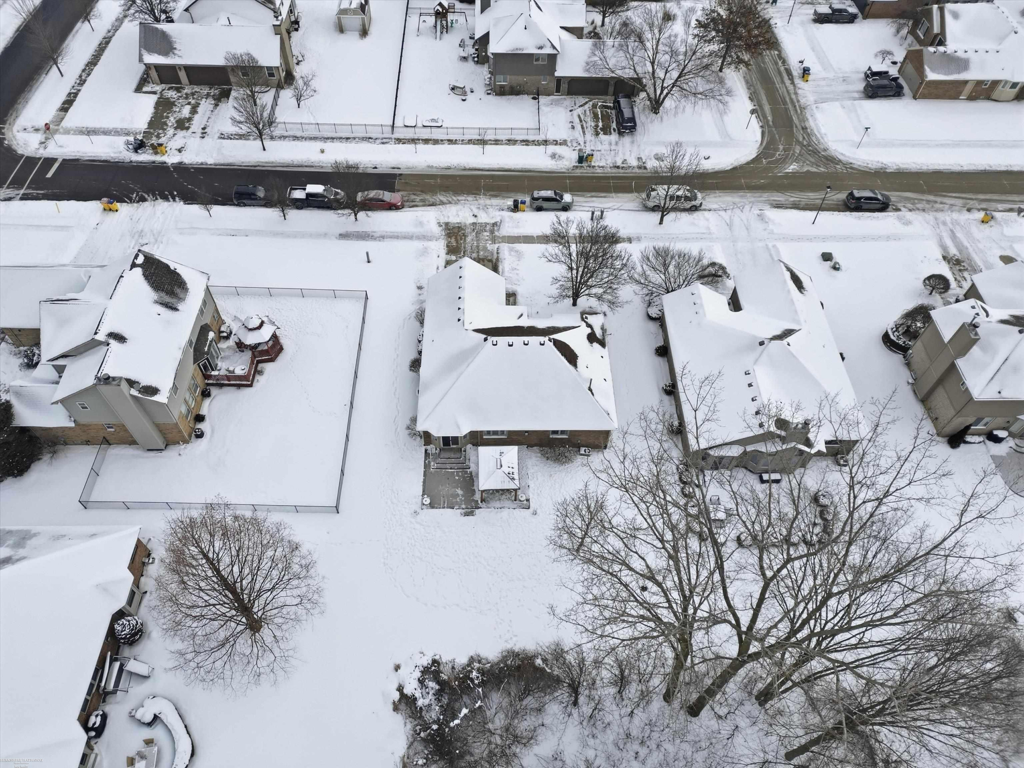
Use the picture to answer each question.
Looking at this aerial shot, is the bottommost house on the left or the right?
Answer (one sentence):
The bottommost house is on the left side of the image.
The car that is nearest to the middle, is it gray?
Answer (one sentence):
Yes, the car that is nearest to the middle is indeed gray.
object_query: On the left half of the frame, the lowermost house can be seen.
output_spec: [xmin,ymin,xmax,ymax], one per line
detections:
[0,525,150,768]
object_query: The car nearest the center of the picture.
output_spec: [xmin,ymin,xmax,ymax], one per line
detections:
[528,186,575,211]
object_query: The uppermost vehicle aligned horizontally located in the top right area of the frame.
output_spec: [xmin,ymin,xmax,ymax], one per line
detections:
[815,2,862,22]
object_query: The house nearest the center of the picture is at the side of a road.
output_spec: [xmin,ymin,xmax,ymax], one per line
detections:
[416,258,619,449]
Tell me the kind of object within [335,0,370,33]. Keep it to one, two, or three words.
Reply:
shed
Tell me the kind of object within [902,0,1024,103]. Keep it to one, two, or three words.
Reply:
house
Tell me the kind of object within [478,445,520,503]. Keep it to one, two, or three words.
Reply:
gazebo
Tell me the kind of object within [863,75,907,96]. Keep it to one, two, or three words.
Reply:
car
